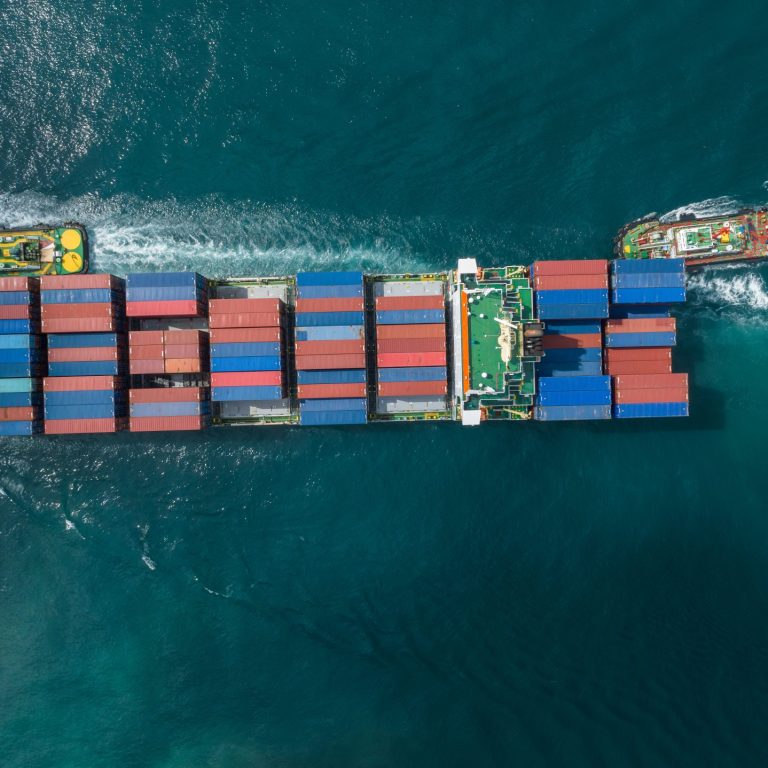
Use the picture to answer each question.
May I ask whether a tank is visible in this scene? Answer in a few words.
No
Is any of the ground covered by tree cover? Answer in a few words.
No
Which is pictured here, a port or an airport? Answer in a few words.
port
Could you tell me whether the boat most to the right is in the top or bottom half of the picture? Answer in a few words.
top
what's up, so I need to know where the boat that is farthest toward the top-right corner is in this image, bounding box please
[613,201,768,266]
